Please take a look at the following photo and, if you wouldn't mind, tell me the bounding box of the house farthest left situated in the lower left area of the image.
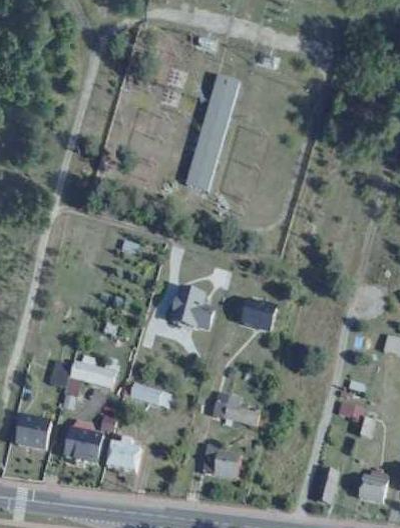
[10,413,54,450]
